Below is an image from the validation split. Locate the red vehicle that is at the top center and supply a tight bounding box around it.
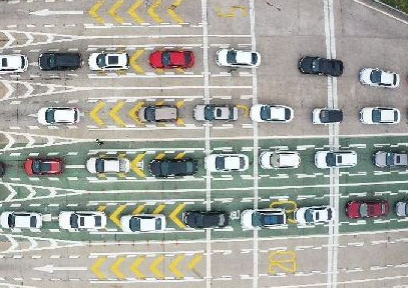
[149,47,194,70]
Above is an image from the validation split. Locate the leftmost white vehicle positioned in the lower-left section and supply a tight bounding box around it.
[1,209,43,231]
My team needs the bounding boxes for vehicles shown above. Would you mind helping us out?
[39,50,81,71]
[39,104,79,125]
[1,209,43,231]
[357,66,399,88]
[25,156,64,177]
[239,207,285,231]
[182,208,229,231]
[357,104,400,125]
[258,148,300,171]
[149,47,194,70]
[312,148,357,170]
[293,204,332,227]
[342,198,389,221]
[297,54,344,76]
[248,102,293,124]
[193,102,238,123]
[120,212,166,234]
[86,154,131,175]
[310,105,343,126]
[149,157,198,178]
[59,209,107,232]
[215,46,260,68]
[89,50,130,72]
[137,103,178,123]
[204,152,249,174]
[0,54,29,73]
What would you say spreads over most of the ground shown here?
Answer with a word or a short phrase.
paved ground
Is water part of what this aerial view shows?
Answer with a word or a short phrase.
No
